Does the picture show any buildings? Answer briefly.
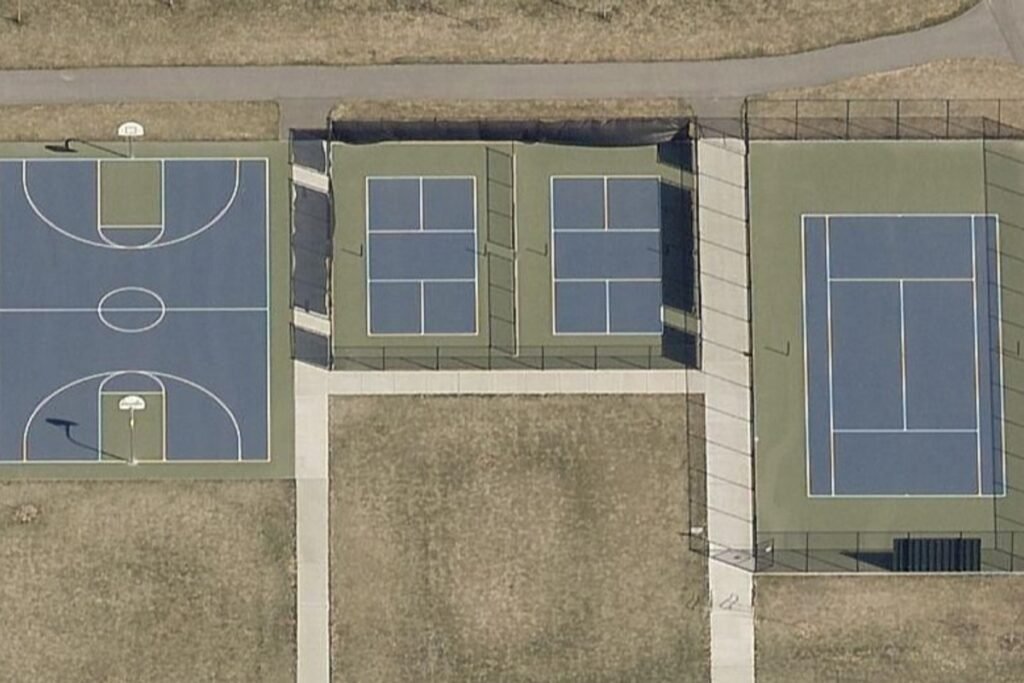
No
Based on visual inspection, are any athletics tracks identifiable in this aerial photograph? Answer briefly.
No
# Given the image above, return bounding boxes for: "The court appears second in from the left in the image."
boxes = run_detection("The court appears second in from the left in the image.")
[333,143,517,370]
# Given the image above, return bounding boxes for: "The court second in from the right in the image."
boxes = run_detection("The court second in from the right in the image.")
[514,143,696,369]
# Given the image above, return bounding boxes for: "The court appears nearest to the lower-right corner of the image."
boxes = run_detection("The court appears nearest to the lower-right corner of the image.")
[749,140,1024,571]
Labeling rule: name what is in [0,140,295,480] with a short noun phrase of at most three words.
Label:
basketball court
